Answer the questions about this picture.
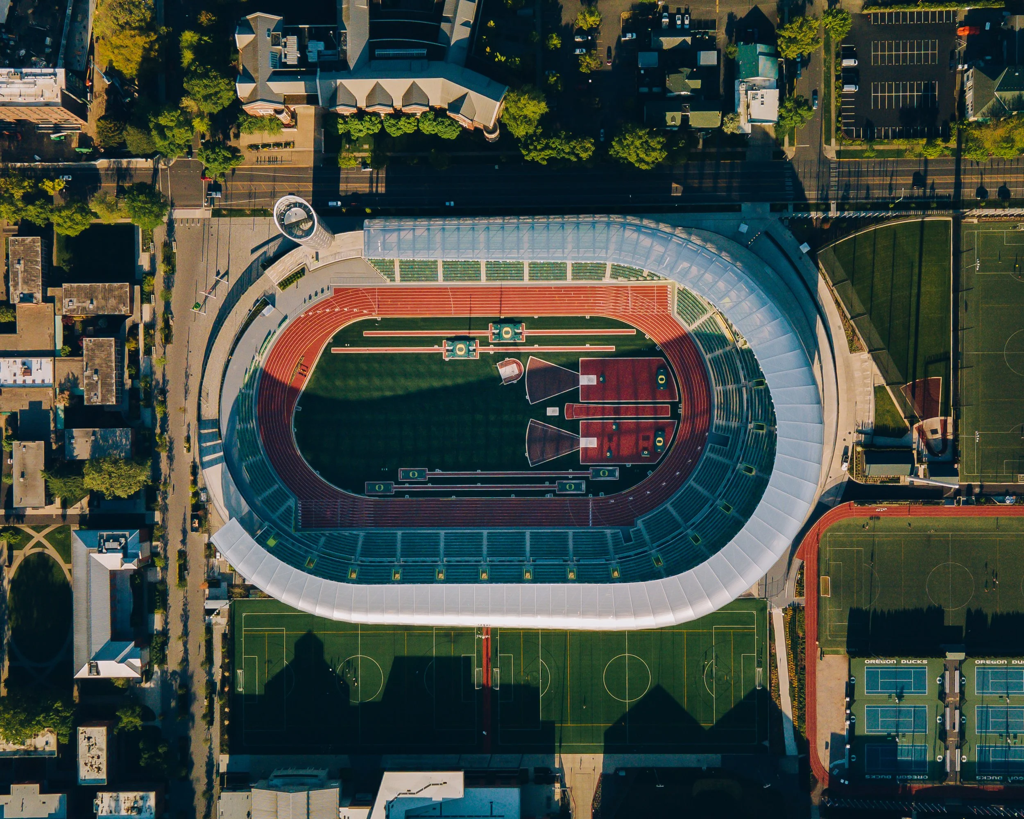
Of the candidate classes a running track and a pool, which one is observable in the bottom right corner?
running track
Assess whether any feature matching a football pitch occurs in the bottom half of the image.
Yes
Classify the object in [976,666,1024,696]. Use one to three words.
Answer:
tennis court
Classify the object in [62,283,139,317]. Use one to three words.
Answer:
building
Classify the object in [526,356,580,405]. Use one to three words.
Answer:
sports field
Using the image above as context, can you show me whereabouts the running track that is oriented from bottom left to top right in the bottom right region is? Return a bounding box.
[796,502,1024,785]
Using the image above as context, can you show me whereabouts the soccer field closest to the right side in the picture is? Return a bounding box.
[960,223,1024,482]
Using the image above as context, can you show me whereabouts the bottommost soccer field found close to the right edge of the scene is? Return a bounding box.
[818,517,1024,657]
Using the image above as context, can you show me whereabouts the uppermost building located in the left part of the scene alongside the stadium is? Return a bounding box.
[233,0,510,147]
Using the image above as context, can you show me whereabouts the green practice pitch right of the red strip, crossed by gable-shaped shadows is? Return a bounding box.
[490,599,768,755]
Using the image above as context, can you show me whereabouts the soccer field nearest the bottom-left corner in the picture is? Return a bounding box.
[234,599,482,755]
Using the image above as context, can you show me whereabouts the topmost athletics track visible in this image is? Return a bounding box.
[257,287,710,528]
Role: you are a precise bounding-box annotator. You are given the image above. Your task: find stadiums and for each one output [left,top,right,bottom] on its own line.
[209,214,824,630]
